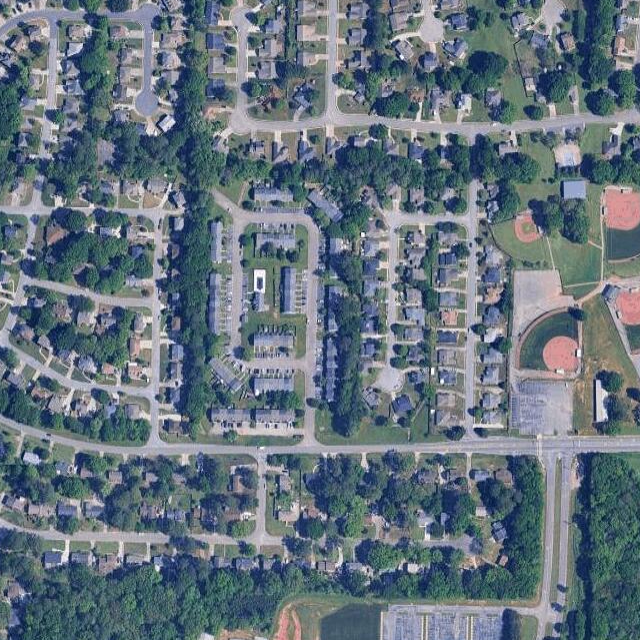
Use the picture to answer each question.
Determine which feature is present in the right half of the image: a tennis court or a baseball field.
baseball field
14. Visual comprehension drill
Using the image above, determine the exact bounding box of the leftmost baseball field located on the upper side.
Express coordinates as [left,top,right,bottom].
[491,212,542,264]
